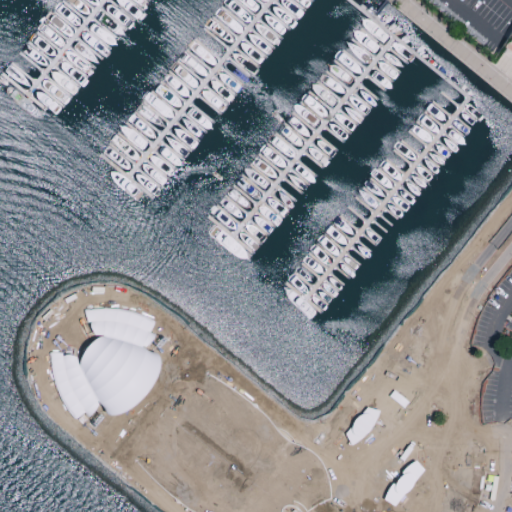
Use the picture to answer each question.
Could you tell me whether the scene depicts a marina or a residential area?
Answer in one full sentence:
What you see here is a marina.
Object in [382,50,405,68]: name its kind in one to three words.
boat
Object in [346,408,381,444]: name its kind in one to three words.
tent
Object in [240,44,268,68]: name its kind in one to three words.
boat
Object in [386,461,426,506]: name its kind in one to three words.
tent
